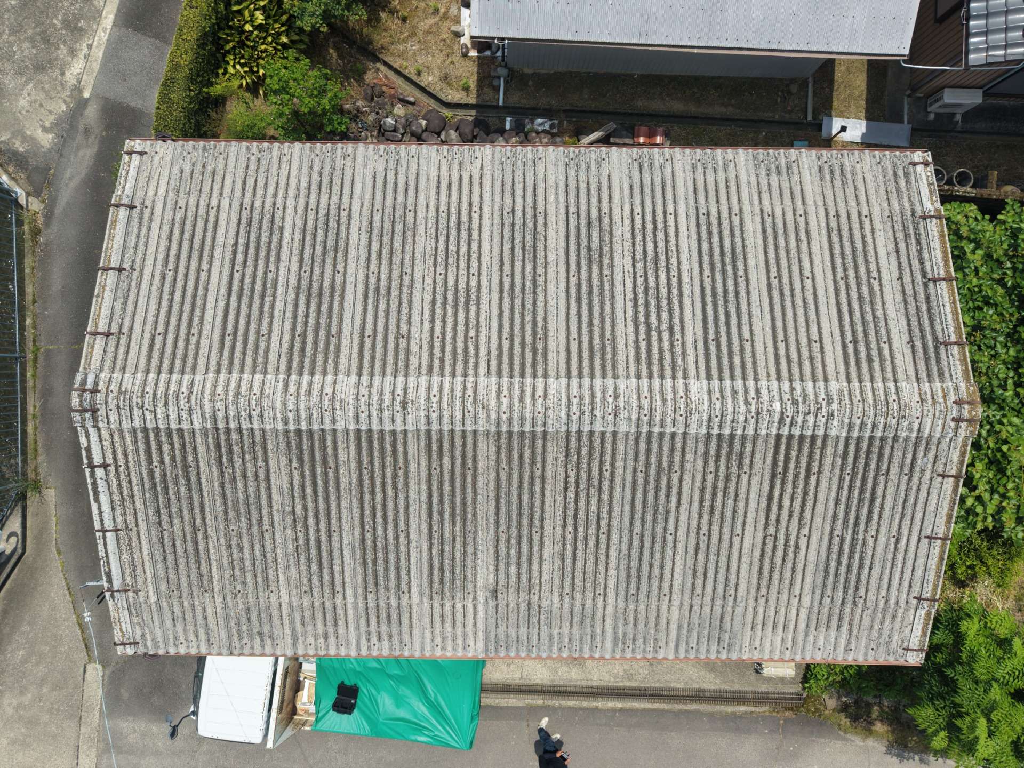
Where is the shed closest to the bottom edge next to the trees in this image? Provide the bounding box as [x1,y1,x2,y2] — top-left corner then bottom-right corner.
[65,132,985,666]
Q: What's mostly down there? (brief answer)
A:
buildings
